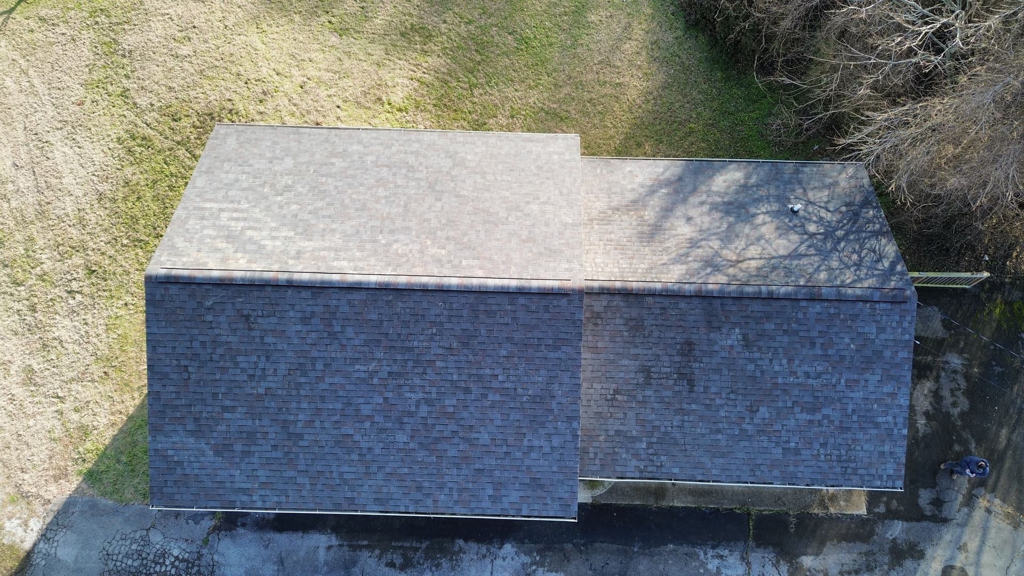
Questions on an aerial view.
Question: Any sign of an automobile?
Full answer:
No, there's no automobile here.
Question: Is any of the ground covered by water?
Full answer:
No, the scene doesn't show any water.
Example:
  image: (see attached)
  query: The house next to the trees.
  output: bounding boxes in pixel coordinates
[145,122,918,523]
